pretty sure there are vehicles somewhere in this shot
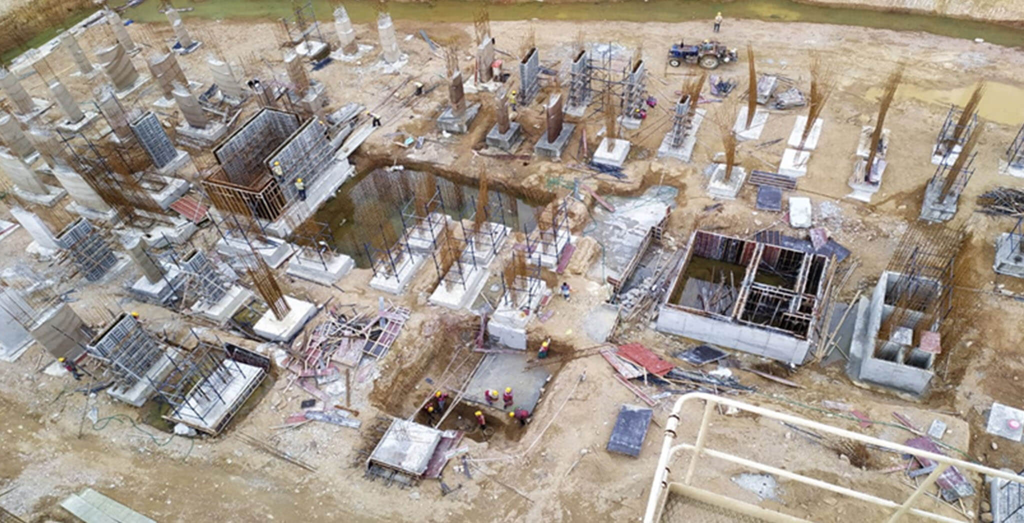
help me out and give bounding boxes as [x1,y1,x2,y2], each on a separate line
[666,37,737,77]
